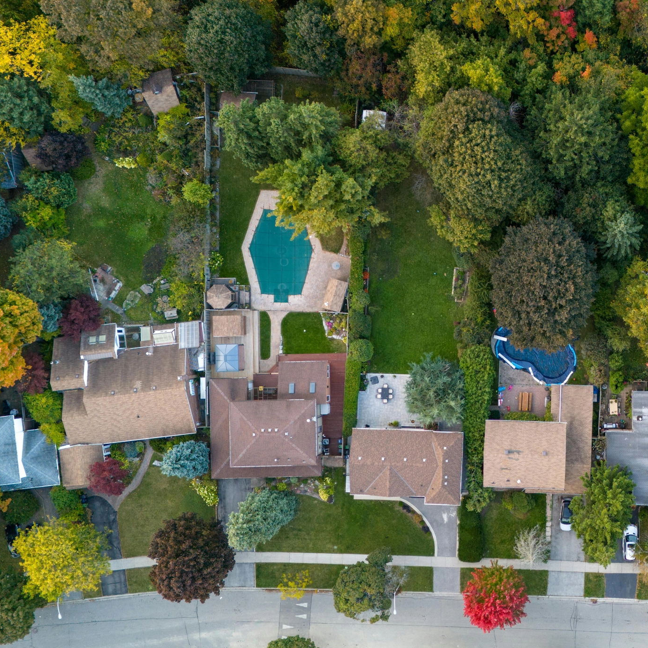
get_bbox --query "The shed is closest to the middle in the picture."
[323,278,349,312]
